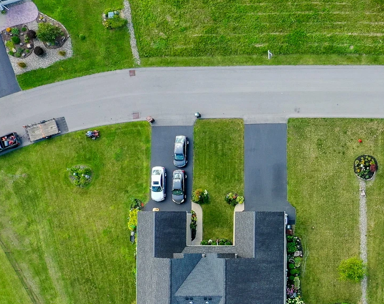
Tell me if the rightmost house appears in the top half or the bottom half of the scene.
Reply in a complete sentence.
The bottom half of the photo is where the rightmost house is.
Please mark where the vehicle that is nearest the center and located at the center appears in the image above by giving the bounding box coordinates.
[171,133,189,167]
